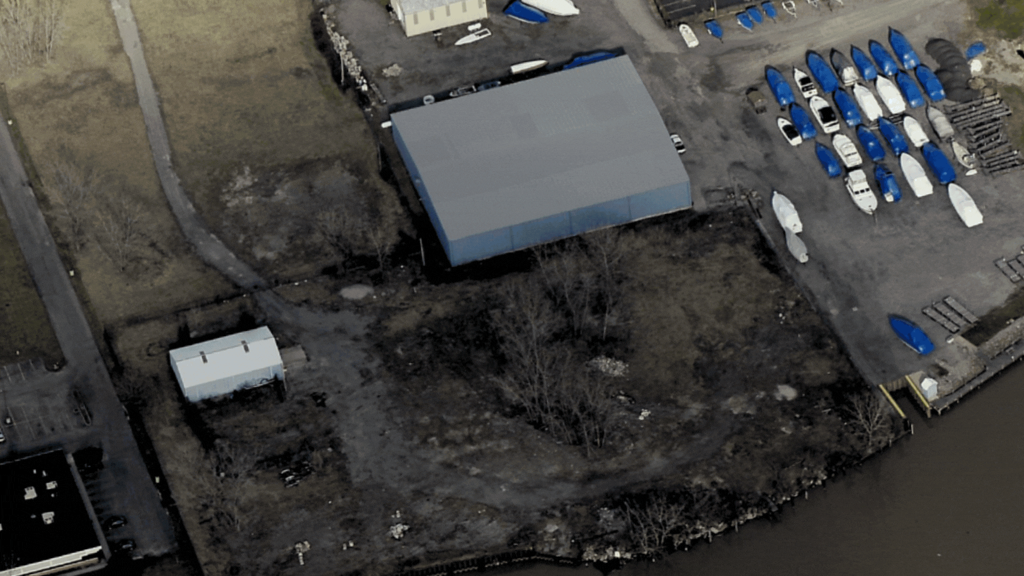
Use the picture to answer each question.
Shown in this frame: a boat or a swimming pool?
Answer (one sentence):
This aerial view contains a boat.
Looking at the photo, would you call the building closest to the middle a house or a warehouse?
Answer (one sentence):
I'd identify the building closest to the middle as a warehouse.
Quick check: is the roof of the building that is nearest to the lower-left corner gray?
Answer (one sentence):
No, the roof of the building that is nearest to the lower-left corner is actually black.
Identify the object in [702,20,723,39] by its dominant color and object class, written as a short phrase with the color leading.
blue boat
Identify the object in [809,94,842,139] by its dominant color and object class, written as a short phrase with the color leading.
white boat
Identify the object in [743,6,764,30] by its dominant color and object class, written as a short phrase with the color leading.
blue boat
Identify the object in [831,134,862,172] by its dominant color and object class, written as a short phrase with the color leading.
white boat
